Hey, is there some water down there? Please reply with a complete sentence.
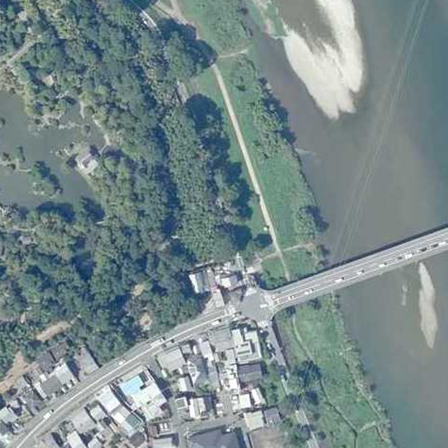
Yes, the picture does contain water.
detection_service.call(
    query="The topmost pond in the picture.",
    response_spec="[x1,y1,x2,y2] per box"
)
[0,92,106,208]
